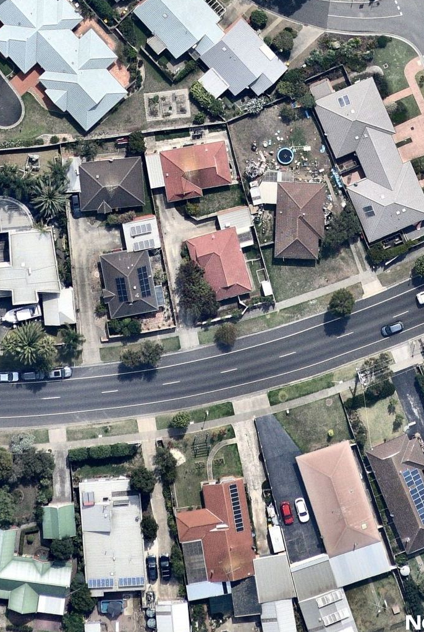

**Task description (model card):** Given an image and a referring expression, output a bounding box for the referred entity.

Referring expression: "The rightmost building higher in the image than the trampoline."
[198,19,288,98]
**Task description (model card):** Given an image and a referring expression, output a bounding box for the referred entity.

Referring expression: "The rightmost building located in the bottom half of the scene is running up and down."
[366,434,424,554]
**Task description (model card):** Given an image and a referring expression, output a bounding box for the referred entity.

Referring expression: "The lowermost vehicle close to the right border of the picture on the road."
[380,321,404,337]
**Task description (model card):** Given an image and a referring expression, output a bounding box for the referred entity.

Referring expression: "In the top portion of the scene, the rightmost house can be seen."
[308,78,424,242]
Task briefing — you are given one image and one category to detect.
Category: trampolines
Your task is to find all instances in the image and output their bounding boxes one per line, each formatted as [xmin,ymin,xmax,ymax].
[276,147,294,164]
